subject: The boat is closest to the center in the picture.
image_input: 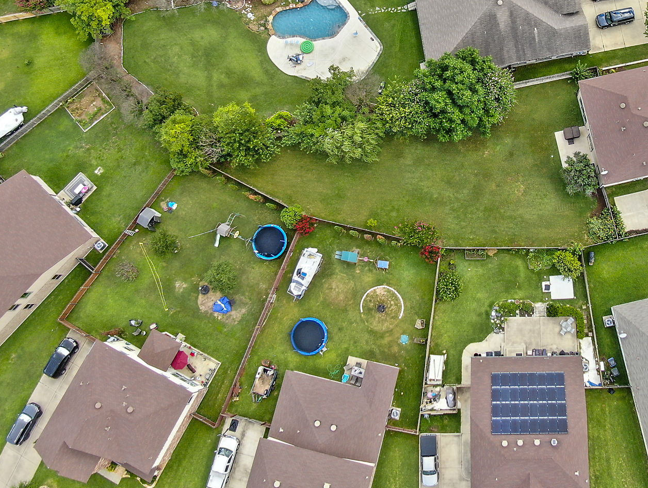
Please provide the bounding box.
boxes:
[290,247,322,299]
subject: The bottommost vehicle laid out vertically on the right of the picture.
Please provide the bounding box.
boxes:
[419,434,440,487]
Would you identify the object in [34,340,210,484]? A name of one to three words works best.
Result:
house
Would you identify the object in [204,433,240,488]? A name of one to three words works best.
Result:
truck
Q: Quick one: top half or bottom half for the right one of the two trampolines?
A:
bottom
